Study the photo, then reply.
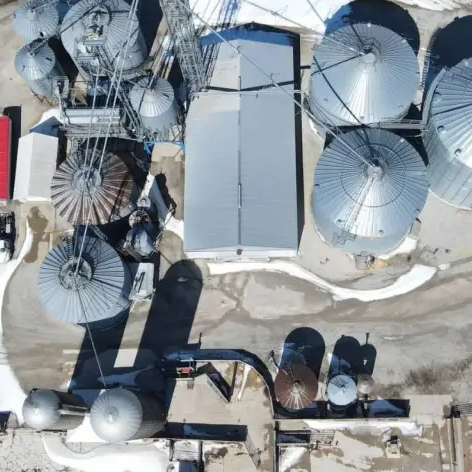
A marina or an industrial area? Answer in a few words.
industrial area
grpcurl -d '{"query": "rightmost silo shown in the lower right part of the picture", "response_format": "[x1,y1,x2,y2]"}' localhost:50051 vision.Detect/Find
[354,374,375,398]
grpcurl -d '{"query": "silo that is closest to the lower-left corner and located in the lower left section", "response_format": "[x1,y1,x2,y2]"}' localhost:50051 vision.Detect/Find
[21,388,91,431]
